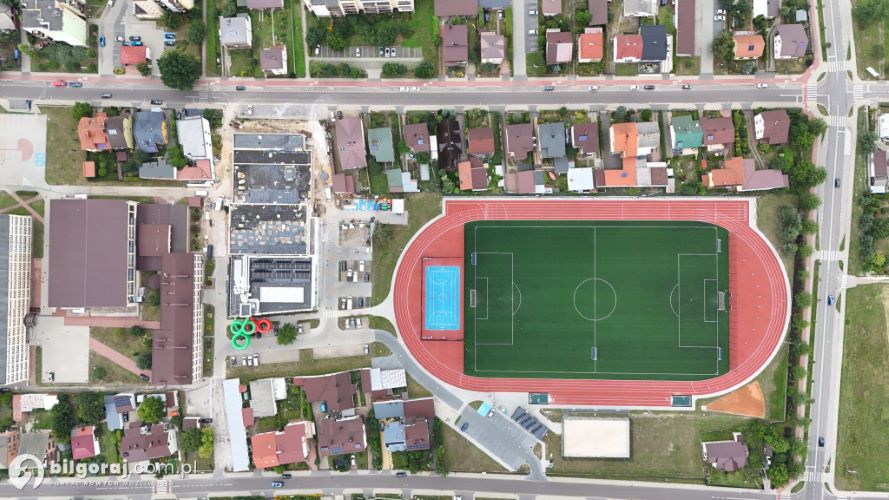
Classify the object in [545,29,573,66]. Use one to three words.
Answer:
house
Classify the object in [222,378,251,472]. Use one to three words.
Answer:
building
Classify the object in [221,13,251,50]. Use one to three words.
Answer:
house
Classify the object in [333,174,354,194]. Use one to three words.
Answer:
shed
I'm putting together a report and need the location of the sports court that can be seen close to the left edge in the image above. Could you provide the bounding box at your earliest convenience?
[0,114,49,187]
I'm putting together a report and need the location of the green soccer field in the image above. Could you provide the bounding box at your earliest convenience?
[464,220,729,379]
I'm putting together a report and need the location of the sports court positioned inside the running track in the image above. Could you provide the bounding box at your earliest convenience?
[425,266,459,331]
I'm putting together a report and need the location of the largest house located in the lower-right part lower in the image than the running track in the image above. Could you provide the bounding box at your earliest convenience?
[701,431,747,470]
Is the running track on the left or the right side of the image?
right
